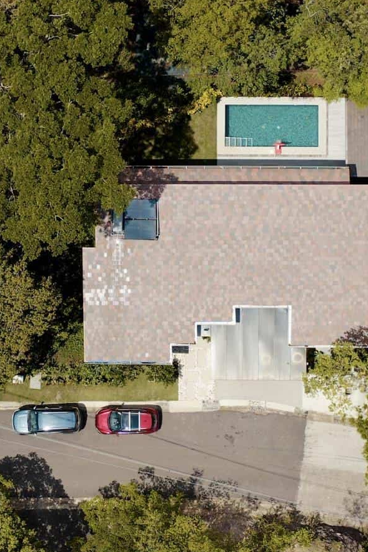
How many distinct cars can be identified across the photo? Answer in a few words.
2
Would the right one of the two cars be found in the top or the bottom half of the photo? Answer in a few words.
bottom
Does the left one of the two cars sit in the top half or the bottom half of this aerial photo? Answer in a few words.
bottom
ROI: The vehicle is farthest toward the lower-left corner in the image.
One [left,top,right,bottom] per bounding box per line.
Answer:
[10,408,81,440]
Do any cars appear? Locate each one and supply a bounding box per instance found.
[95,408,157,440]
[10,408,81,440]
